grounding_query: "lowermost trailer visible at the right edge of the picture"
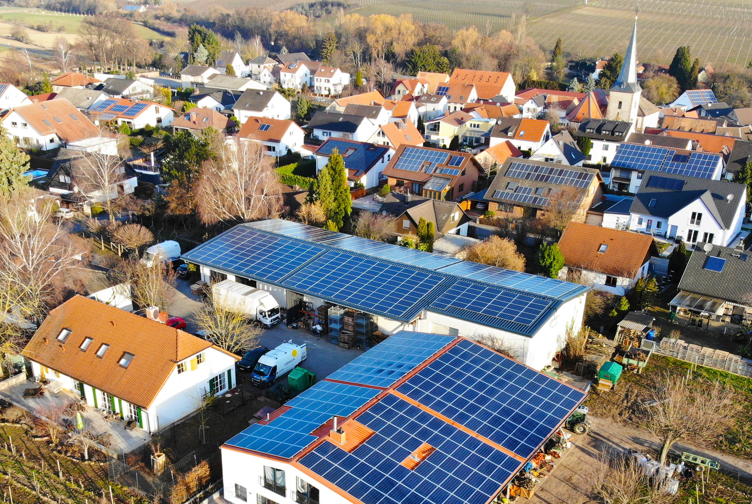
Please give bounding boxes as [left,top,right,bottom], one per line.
[669,443,749,482]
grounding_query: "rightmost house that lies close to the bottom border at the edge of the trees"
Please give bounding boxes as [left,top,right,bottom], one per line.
[221,326,590,504]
